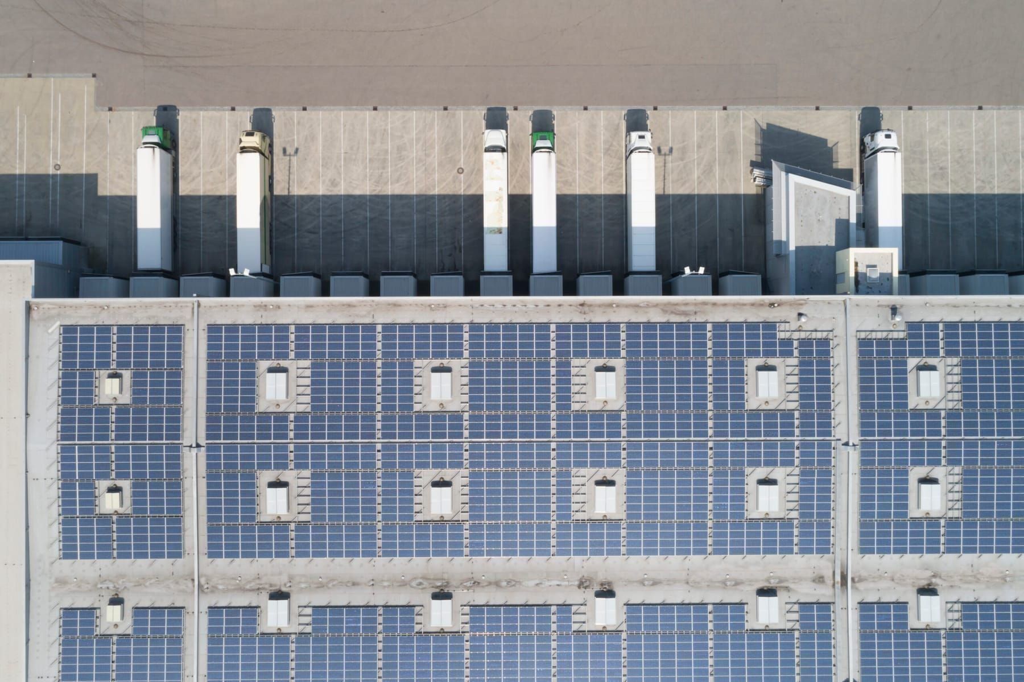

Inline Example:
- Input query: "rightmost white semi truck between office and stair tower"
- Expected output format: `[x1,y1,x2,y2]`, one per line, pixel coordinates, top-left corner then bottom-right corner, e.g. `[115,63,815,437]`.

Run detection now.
[860,132,902,272]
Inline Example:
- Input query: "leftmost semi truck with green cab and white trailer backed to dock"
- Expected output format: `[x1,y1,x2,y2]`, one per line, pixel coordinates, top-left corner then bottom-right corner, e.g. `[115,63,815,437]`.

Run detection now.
[137,126,176,273]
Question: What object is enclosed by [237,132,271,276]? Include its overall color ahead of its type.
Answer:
white truck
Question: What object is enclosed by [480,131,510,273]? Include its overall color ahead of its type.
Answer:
white truck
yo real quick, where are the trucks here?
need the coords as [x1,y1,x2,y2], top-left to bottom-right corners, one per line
[480,131,510,273]
[137,126,176,273]
[528,131,558,274]
[237,132,271,276]
[624,133,655,274]
[860,132,902,272]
